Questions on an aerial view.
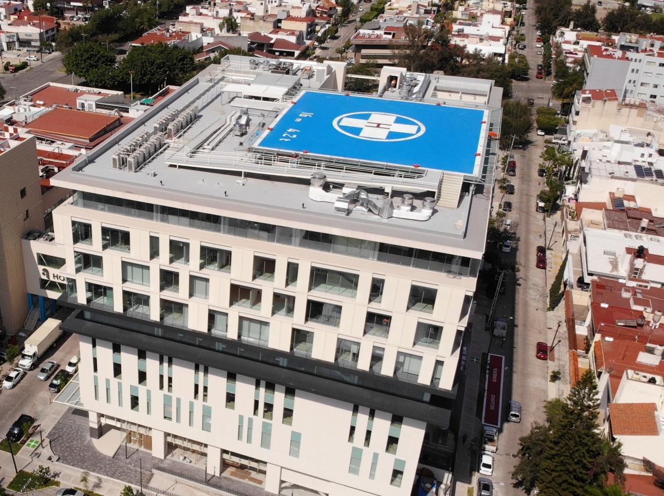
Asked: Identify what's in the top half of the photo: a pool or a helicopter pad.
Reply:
helicopter pad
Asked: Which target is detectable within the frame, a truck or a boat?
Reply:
truck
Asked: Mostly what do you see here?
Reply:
buildings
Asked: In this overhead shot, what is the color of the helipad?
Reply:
blue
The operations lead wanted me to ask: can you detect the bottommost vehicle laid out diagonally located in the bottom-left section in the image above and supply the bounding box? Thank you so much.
[0,411,40,441]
